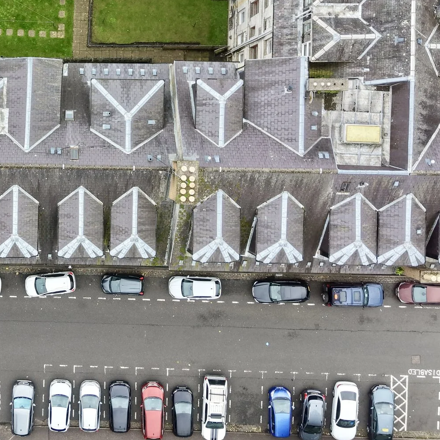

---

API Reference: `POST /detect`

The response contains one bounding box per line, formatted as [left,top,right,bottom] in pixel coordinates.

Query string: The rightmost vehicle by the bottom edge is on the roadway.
[366,384,396,440]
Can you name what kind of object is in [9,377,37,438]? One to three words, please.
car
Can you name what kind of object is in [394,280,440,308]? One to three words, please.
car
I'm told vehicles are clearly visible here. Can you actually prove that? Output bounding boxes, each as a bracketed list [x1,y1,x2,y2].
[139,380,166,440]
[77,377,102,432]
[167,276,221,301]
[394,280,440,308]
[108,379,134,434]
[297,388,325,440]
[25,272,77,299]
[47,376,73,432]
[324,280,385,310]
[329,380,358,440]
[200,373,229,440]
[9,377,37,438]
[169,384,195,438]
[366,384,396,440]
[250,278,310,306]
[265,384,294,438]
